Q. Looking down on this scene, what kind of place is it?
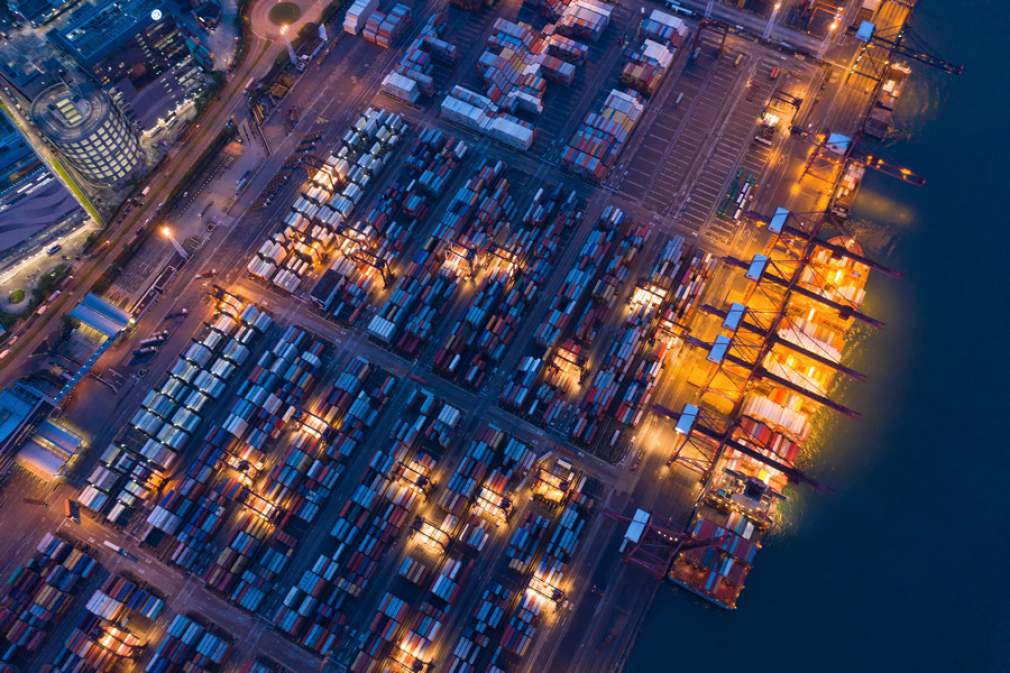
port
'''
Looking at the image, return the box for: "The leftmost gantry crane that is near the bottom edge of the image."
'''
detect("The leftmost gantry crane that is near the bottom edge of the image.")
[97,616,155,655]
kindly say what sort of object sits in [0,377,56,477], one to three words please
building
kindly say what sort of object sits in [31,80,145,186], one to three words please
building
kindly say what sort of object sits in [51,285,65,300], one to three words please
vehicle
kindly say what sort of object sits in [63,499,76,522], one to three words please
vehicle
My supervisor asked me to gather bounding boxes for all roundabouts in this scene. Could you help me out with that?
[254,0,315,36]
